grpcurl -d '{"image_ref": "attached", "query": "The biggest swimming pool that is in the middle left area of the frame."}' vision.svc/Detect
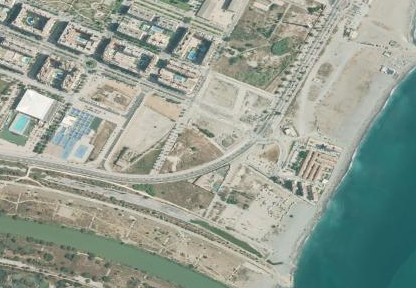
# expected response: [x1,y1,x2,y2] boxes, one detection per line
[9,113,33,135]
